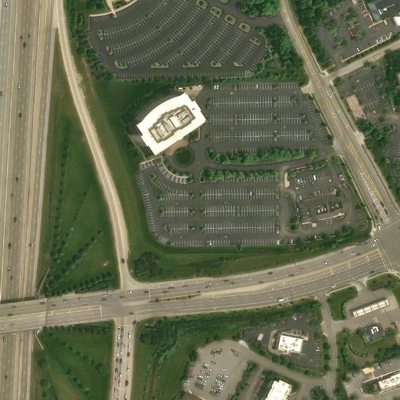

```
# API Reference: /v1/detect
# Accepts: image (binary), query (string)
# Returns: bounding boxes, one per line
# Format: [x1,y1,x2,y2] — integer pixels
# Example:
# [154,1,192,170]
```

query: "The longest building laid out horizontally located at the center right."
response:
[300,201,345,224]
